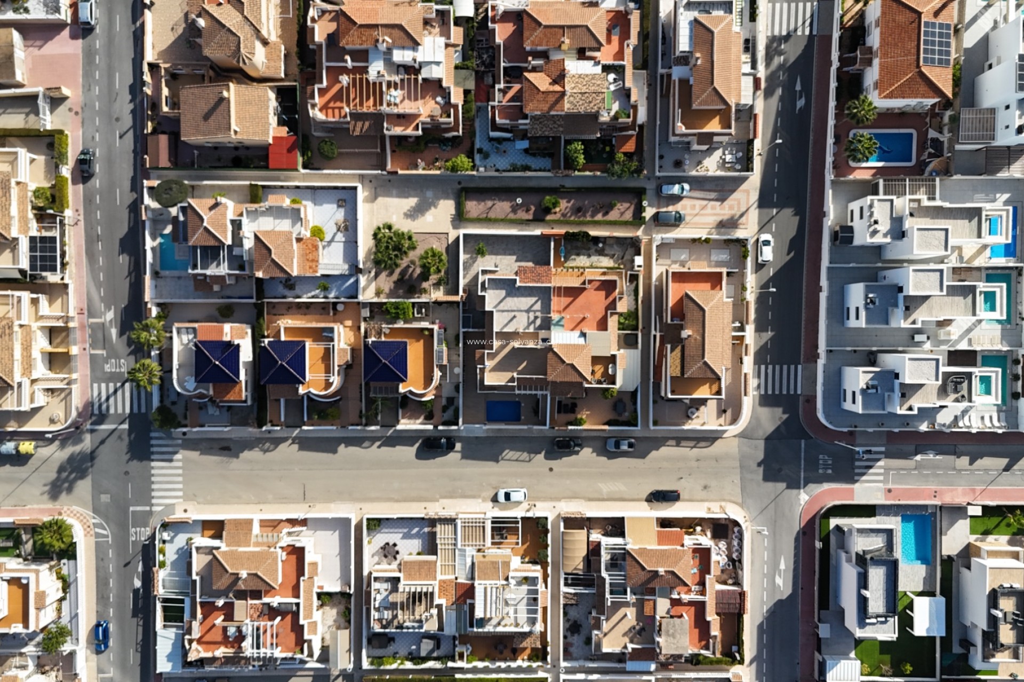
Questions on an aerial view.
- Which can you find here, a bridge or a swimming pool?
swimming pool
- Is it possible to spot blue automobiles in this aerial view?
Yes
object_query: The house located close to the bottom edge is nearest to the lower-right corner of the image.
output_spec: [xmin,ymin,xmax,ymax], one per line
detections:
[948,537,1024,668]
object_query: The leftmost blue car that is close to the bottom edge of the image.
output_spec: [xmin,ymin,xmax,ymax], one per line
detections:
[94,619,111,651]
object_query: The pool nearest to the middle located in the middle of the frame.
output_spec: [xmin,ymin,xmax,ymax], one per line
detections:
[485,400,522,423]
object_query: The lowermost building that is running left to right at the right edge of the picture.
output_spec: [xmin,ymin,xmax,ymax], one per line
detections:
[842,355,1001,414]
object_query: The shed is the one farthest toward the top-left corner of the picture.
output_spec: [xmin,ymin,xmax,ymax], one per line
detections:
[0,27,28,87]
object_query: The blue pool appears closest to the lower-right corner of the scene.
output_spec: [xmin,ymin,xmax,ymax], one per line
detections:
[899,513,932,565]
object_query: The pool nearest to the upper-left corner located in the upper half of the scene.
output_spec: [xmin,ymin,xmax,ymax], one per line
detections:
[157,231,189,273]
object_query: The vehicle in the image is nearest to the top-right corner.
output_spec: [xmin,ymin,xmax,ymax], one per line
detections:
[757,234,773,264]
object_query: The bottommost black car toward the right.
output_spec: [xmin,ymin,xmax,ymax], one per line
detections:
[651,488,681,503]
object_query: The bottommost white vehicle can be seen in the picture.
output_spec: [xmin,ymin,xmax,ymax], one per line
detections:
[498,488,527,502]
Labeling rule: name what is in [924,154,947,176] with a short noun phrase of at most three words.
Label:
gazebo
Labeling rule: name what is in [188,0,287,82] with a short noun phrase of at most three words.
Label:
house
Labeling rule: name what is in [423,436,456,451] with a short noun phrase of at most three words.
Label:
car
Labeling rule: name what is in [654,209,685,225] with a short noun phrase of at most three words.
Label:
car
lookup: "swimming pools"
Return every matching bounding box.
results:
[977,352,1012,410]
[849,128,917,166]
[899,513,932,565]
[982,270,1016,329]
[157,231,189,273]
[485,400,522,423]
[988,205,1020,261]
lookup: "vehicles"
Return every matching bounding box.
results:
[552,437,581,451]
[79,149,95,177]
[498,488,527,502]
[605,437,636,451]
[659,182,689,197]
[654,209,685,225]
[79,0,96,30]
[757,234,773,264]
[186,676,215,682]
[423,436,456,451]
[94,619,111,651]
[651,488,681,503]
